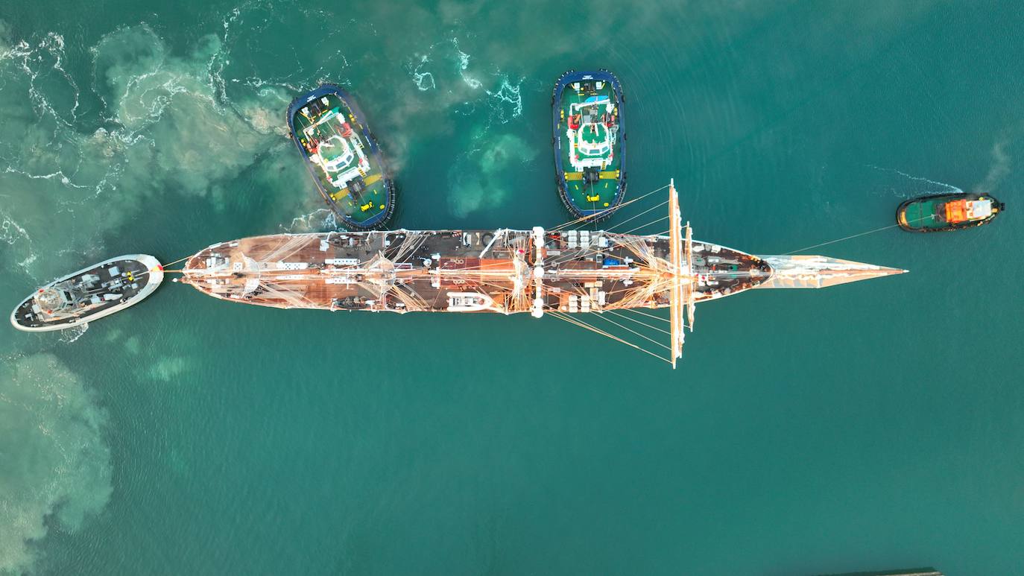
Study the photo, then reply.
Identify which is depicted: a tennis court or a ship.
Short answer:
ship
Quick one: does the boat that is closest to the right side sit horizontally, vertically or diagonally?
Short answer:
horizontally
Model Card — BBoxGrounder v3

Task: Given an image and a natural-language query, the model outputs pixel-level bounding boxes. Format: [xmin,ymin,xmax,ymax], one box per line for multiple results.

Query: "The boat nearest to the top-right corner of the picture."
[894,192,1007,233]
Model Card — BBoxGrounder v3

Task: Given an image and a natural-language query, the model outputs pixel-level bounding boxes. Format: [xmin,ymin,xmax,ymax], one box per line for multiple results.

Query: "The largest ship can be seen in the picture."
[173,180,908,368]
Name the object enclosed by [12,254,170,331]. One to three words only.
boat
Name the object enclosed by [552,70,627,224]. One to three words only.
boat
